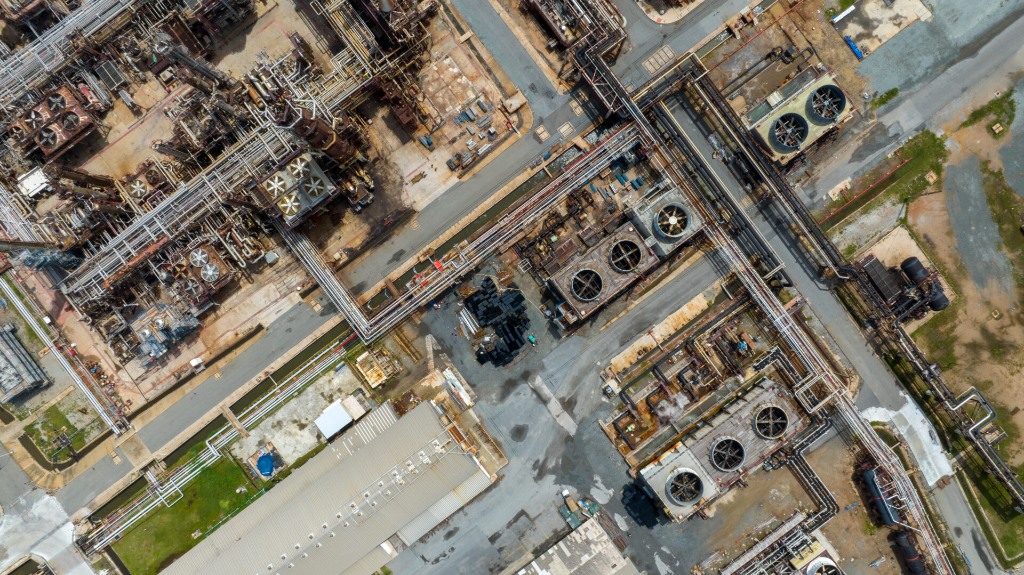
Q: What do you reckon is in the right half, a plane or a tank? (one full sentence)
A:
You can see a tank in the right half.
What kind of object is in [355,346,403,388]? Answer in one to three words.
shed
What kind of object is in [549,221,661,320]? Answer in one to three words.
cooling tower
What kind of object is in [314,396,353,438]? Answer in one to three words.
shed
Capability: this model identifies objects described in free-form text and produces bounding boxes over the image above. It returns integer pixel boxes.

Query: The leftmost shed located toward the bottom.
[0,321,60,406]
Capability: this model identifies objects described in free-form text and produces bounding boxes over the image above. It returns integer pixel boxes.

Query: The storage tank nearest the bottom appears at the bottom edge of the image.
[889,530,930,575]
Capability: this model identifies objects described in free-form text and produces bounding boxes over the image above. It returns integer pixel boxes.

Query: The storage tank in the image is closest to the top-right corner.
[895,257,950,310]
